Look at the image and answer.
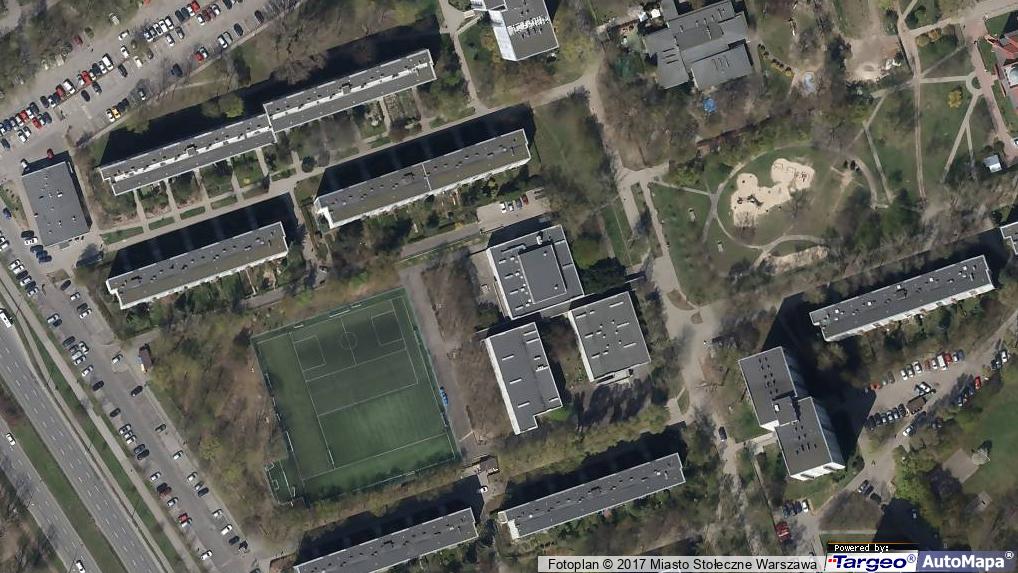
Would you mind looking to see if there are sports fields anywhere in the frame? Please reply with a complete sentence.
Yes, the image includes a sports field.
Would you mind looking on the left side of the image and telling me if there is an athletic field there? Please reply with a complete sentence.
Yes, on the left side of the image there is an athletic field.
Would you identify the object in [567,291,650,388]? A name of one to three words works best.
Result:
building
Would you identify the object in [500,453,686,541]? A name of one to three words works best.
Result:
building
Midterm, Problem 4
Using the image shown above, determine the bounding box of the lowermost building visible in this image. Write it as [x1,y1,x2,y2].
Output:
[294,508,478,573]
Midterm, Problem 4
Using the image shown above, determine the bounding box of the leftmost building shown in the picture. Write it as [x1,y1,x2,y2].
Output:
[23,162,90,248]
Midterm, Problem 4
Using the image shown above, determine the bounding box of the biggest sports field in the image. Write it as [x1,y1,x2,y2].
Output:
[251,287,461,506]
